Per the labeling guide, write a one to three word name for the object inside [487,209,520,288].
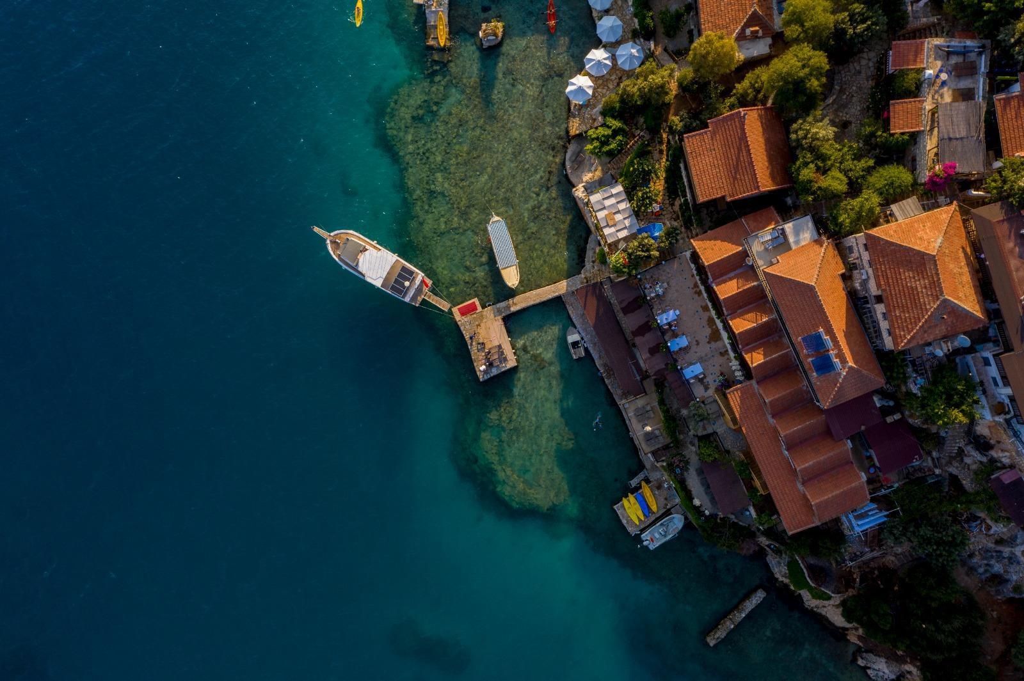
boat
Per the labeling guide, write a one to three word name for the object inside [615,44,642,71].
umbrella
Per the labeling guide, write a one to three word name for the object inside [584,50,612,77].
umbrella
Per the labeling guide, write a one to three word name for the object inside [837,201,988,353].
house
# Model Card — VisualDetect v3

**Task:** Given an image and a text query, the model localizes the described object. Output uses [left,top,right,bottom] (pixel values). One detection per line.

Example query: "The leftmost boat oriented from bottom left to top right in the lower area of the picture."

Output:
[641,514,687,553]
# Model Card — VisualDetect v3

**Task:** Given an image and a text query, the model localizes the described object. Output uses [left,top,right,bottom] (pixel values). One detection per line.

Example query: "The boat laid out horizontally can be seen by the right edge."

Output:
[938,44,990,65]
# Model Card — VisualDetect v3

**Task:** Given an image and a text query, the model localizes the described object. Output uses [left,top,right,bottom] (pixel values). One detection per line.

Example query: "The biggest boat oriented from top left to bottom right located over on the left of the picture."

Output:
[311,226,432,306]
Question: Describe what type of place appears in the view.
residential area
